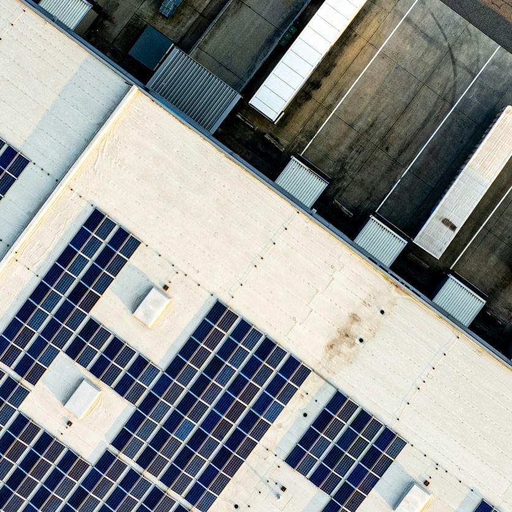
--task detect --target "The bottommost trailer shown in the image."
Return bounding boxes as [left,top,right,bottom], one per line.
[411,106,512,260]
